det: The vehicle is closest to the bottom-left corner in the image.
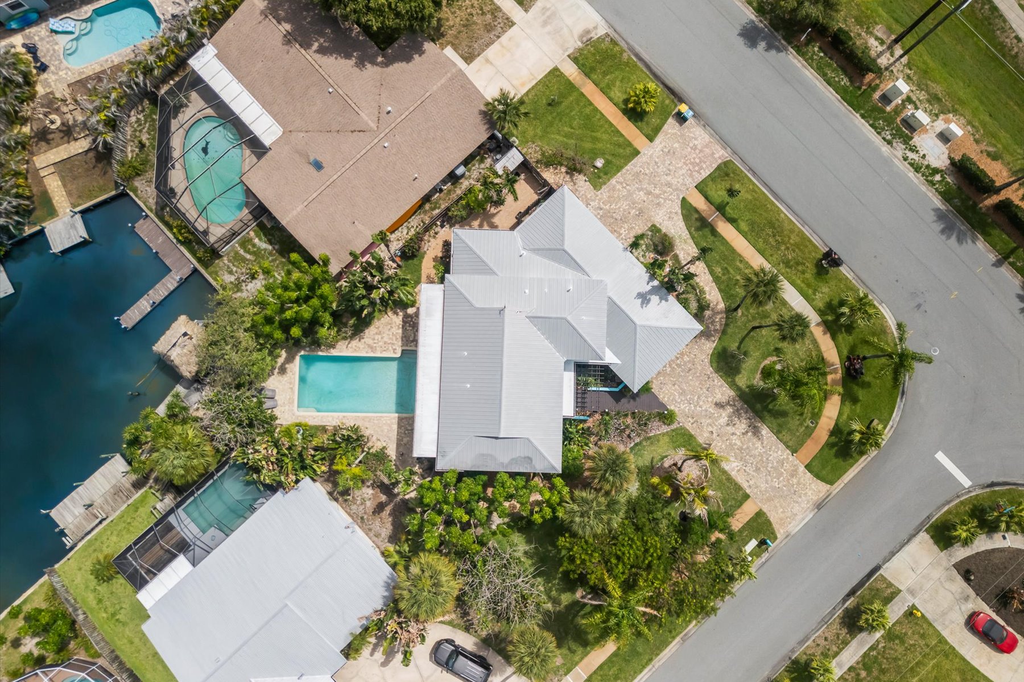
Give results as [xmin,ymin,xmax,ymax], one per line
[431,638,494,682]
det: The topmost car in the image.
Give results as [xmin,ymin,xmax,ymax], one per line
[966,608,1020,654]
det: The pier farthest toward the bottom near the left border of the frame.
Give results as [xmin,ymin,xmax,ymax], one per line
[46,453,149,544]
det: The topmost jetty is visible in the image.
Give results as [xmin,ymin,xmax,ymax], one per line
[41,210,94,253]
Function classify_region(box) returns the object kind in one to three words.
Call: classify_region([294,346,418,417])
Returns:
swimming pool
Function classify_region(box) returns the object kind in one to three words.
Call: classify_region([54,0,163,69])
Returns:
swimming pool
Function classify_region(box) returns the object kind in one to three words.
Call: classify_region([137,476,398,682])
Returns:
house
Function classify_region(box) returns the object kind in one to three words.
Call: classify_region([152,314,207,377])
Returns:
shed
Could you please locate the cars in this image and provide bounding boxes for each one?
[966,608,1020,654]
[431,638,494,682]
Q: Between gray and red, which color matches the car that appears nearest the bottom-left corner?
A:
gray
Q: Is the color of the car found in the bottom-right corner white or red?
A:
red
